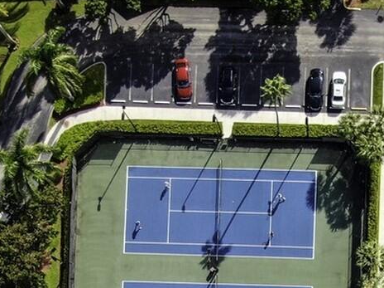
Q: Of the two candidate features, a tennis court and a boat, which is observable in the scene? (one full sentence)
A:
Of the two, only a tennis court appears.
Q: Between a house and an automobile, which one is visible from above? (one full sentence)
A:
The one in the frame is an automobile.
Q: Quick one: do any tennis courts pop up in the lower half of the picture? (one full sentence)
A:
Yes, a tennis court appears in the lower half of the picture.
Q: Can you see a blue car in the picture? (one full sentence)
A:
No, there is no blue car in the image.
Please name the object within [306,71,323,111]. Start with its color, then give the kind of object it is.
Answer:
black car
